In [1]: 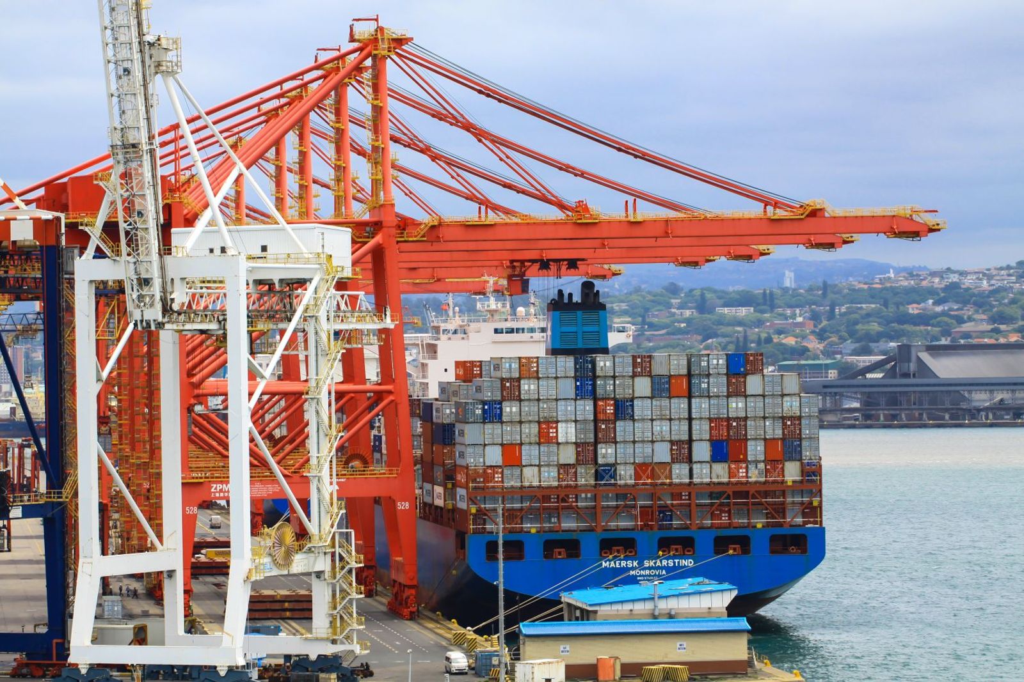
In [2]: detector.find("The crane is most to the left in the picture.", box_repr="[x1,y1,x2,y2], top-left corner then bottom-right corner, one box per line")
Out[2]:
[0,176,126,671]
